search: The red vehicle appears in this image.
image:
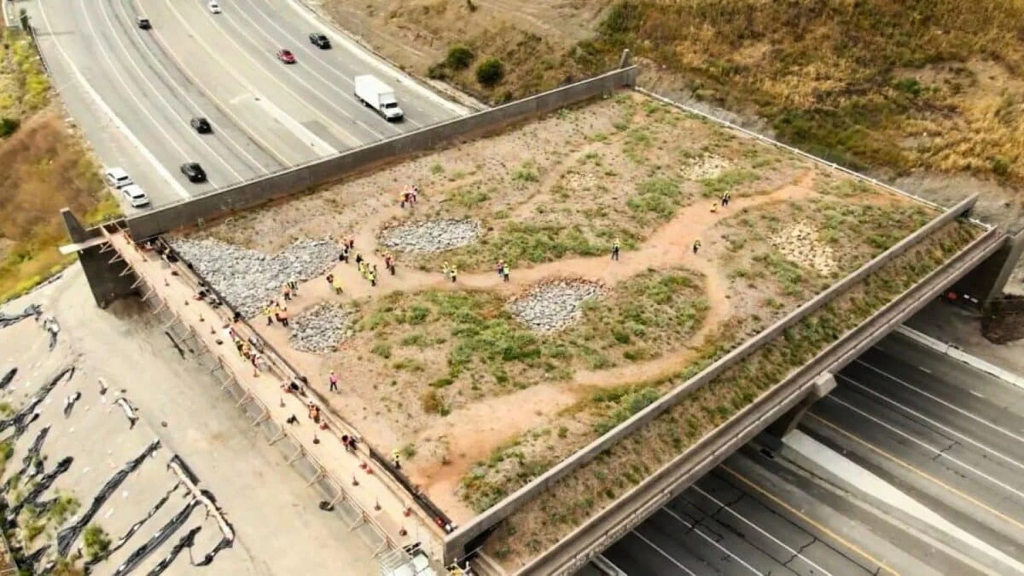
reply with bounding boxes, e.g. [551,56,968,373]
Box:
[276,48,296,62]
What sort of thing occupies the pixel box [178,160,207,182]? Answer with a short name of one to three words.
car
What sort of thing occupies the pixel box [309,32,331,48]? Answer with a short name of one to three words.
vehicle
